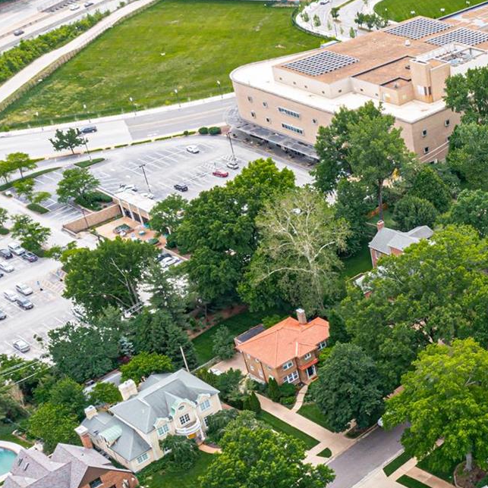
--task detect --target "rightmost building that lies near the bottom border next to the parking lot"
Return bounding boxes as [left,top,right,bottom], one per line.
[75,368,220,477]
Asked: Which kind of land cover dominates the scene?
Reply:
trees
